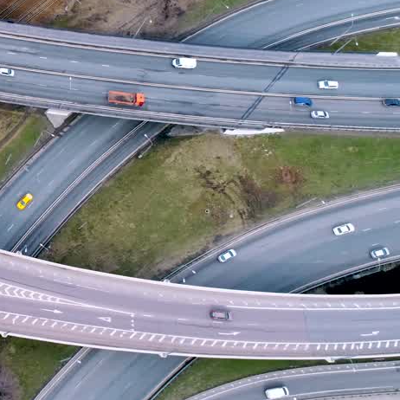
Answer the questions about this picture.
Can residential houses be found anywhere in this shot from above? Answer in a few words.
No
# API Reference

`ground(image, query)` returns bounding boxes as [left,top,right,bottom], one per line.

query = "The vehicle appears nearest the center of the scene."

[215,248,237,263]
